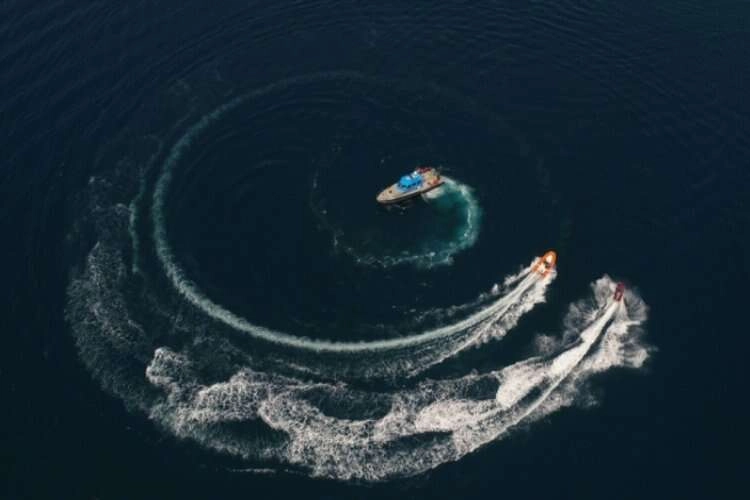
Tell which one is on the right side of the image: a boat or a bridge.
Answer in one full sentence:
What appears on the right side of the image is a boat.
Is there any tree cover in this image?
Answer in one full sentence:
No, the picture contains no tree cover.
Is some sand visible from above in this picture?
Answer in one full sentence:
No, there is no sand in the image.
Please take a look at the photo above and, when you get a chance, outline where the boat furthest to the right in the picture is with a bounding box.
[612,281,625,302]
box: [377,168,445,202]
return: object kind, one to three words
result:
boat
